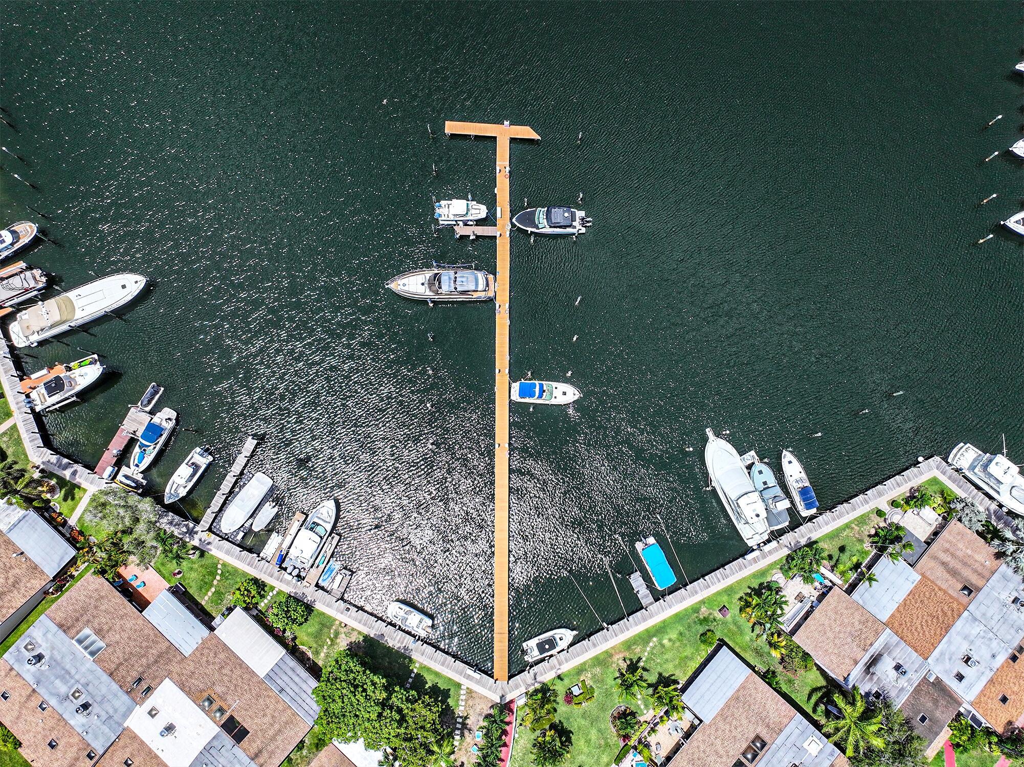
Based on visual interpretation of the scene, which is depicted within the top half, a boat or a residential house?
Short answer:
boat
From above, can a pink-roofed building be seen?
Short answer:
No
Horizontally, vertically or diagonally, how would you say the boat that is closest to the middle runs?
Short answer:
horizontally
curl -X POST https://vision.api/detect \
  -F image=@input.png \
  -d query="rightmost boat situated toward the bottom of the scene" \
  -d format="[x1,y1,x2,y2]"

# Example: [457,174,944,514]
[945,441,1024,510]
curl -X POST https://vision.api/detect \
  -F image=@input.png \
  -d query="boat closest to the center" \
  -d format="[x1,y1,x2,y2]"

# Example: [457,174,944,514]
[509,381,582,406]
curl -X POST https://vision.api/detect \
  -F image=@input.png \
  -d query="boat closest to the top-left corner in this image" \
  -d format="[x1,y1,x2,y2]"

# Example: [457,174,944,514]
[0,225,42,261]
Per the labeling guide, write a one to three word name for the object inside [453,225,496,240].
pier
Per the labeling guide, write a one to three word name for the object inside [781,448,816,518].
boat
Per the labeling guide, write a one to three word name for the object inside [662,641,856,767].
house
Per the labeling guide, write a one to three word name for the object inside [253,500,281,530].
boat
